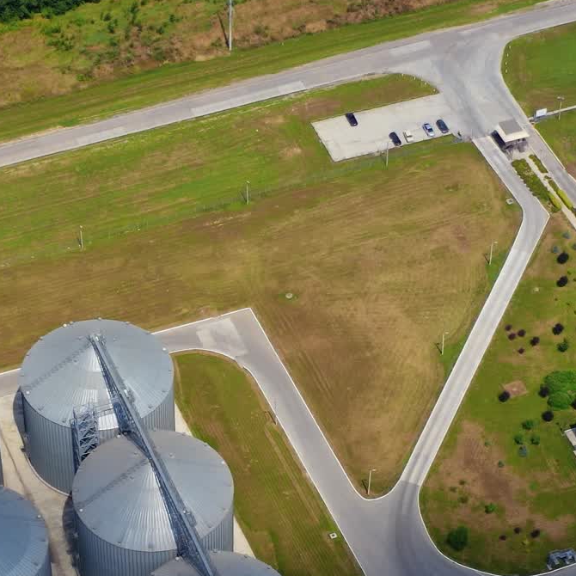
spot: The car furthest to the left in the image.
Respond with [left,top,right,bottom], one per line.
[346,111,359,126]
